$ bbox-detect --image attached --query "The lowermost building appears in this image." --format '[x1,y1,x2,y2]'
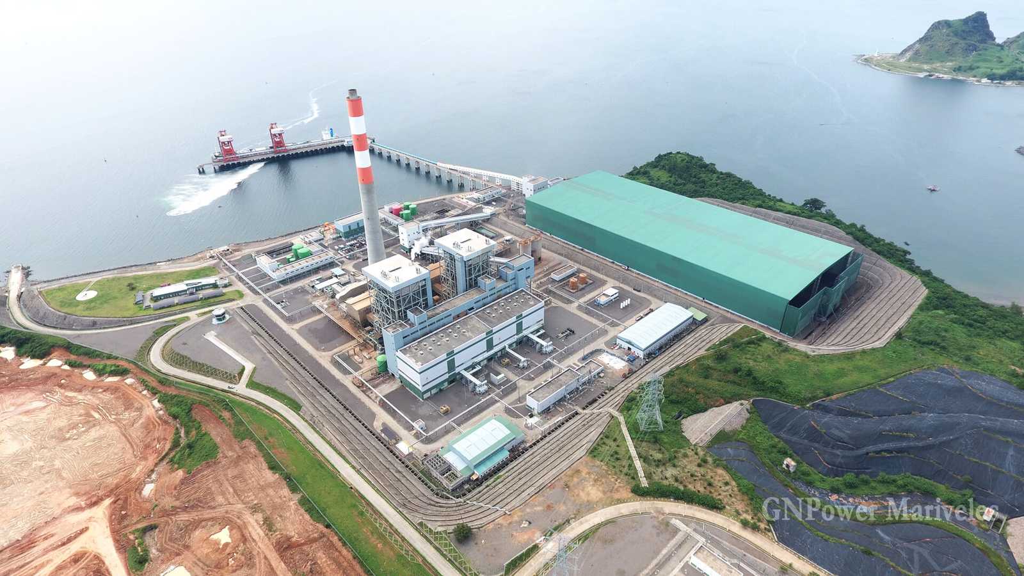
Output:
[673,529,753,576]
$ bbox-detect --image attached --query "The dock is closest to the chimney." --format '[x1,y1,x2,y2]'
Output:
[368,141,486,188]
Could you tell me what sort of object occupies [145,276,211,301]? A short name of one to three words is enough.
building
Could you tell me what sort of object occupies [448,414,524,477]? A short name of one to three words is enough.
building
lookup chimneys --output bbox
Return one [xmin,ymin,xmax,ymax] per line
[345,89,385,266]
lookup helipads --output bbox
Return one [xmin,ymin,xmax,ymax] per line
[73,289,100,301]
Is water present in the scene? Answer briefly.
Yes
